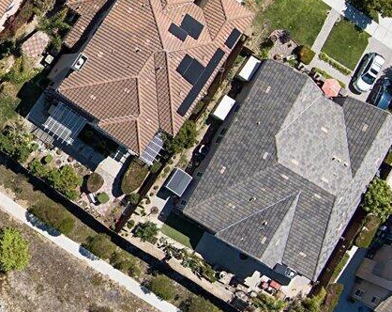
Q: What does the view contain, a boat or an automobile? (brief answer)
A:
automobile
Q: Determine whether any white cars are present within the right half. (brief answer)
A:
Yes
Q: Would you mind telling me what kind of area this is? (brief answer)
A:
residential area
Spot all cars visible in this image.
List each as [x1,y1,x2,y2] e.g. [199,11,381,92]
[350,46,391,95]
[364,68,392,109]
